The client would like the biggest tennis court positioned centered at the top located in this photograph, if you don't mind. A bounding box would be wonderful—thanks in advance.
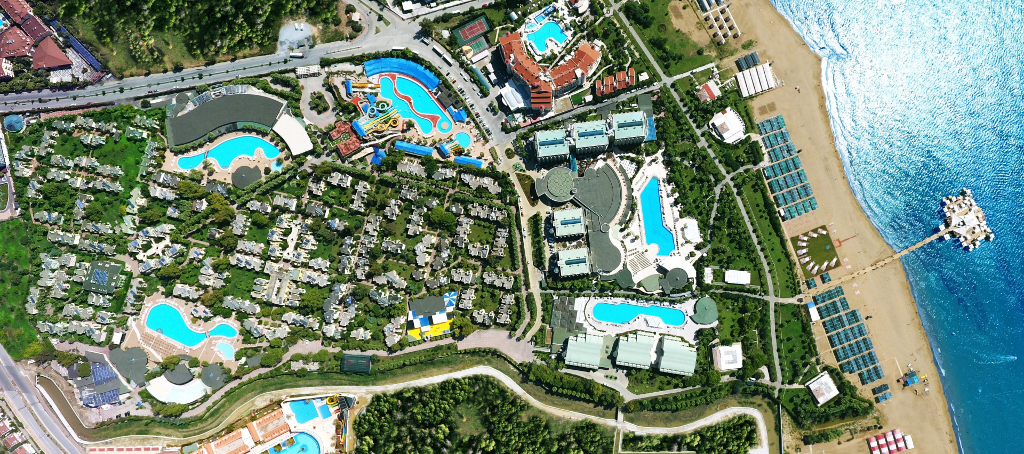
[452,13,493,46]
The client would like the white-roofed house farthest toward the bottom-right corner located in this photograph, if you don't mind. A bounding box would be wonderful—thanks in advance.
[804,372,839,406]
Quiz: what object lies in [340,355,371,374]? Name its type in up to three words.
sports court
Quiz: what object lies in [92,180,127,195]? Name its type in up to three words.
house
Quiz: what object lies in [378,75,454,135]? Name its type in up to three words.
swimming pool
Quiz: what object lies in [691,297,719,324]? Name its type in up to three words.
building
